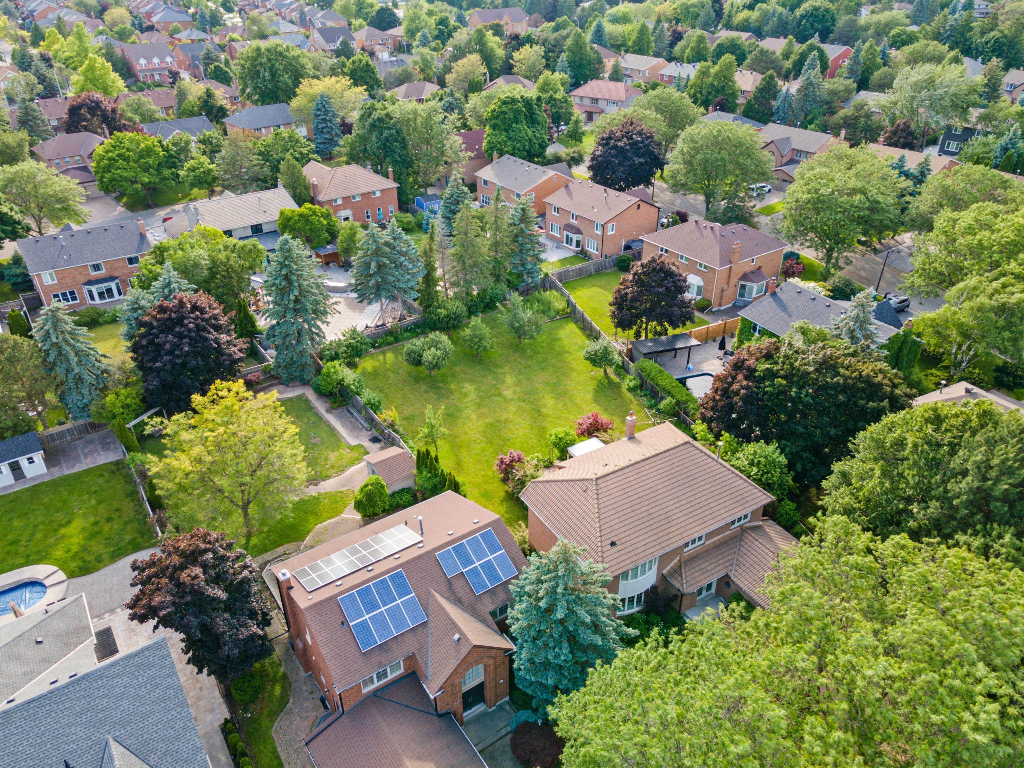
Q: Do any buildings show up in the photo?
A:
Yes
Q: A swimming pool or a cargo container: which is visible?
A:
swimming pool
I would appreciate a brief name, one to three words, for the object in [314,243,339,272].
building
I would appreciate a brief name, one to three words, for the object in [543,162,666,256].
house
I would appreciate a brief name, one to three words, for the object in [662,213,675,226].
vehicle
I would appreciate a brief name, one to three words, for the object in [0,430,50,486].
shed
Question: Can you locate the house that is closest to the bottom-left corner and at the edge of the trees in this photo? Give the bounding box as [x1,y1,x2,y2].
[0,593,214,768]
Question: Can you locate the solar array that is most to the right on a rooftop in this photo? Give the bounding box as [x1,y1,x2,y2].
[436,526,516,591]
